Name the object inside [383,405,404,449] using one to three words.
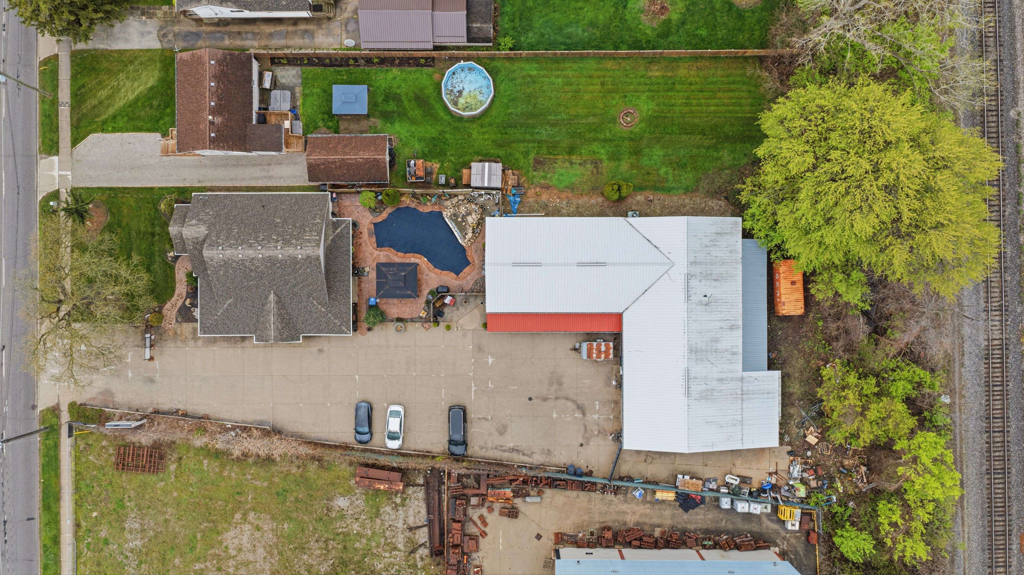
car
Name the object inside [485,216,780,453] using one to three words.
building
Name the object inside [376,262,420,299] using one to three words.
gazebo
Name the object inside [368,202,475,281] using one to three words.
swimming pool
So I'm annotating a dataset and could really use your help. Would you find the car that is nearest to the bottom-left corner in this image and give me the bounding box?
[353,401,374,443]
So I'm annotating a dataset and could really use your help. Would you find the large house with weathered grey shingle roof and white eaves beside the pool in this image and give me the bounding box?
[169,192,355,344]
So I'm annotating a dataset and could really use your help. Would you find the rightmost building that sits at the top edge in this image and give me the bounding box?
[359,0,494,54]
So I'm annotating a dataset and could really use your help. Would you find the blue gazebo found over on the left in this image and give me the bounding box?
[332,84,371,120]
